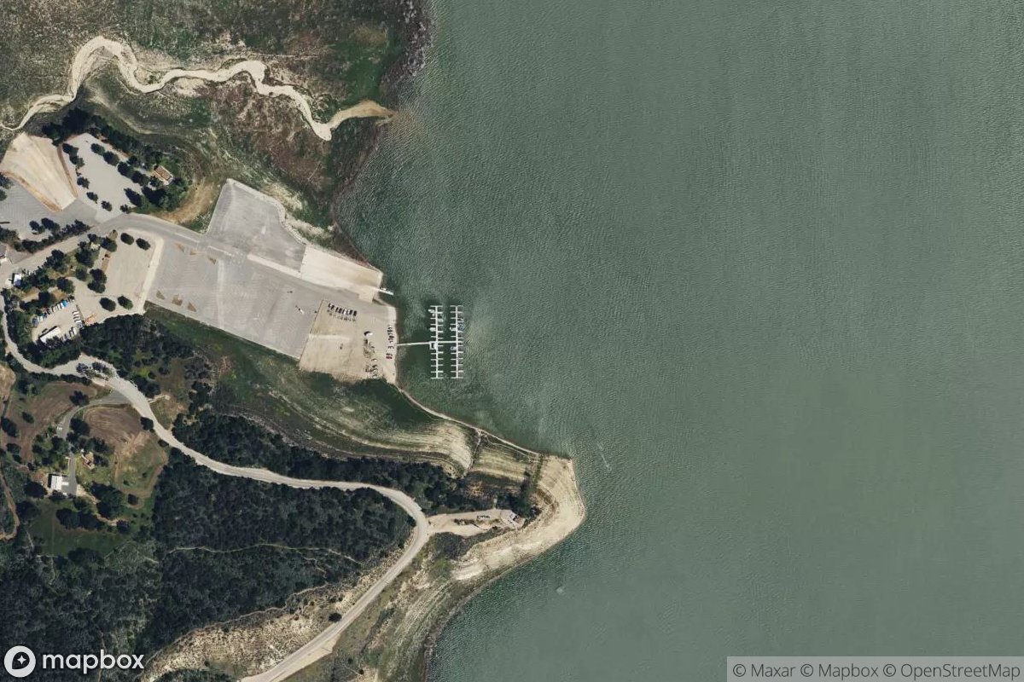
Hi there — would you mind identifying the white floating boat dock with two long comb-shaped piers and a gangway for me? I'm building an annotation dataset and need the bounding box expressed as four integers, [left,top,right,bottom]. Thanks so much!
[395,305,463,379]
